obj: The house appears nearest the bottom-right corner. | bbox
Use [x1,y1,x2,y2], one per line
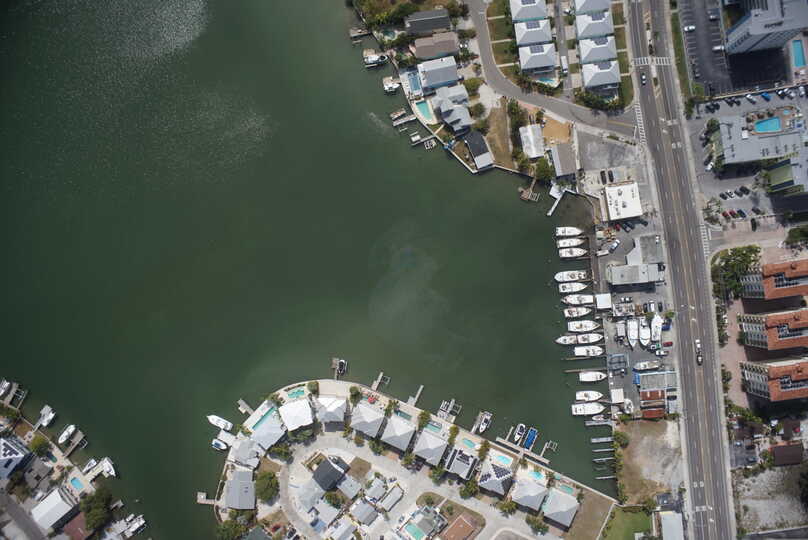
[771,440,804,465]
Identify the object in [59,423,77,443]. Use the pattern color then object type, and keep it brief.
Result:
white boat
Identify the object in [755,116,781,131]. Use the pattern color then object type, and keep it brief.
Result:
blue swimming pool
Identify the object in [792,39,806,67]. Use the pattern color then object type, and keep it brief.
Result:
blue swimming pool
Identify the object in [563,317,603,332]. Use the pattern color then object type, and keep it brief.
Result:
white boat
